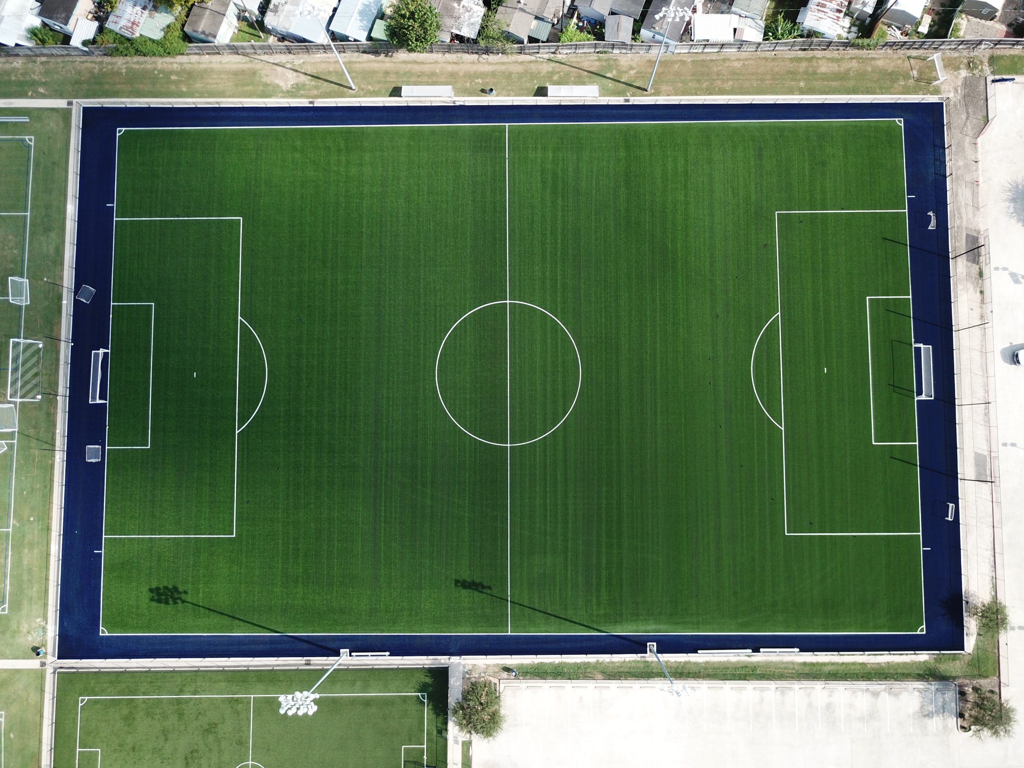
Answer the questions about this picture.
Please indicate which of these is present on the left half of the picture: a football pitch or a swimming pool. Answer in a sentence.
Visible on the left half of the picture is a football pitch.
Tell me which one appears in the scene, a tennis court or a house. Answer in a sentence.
There is a house in the scene.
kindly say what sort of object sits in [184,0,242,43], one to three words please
house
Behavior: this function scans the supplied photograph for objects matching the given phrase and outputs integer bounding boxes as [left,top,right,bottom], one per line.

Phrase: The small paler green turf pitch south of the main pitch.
[50,665,451,768]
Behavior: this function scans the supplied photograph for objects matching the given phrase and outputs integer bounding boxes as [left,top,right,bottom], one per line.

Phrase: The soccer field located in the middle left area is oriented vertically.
[0,136,39,613]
